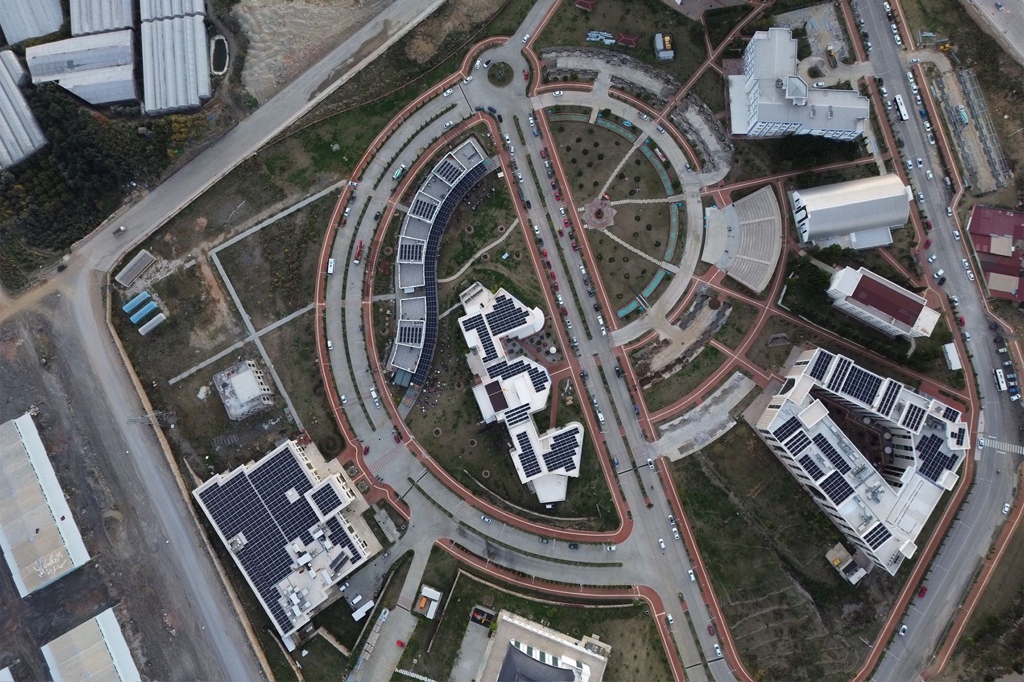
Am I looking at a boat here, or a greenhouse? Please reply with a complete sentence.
It is a greenhouse that can be seen here.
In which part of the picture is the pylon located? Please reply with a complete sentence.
The pylon sits in the left section of the image.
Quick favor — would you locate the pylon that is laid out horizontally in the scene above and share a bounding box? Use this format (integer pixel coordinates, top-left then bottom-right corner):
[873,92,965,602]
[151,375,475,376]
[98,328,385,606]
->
[0,393,175,431]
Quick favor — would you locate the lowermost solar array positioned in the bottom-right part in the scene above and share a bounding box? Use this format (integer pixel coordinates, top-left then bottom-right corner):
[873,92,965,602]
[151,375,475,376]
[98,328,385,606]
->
[863,523,891,549]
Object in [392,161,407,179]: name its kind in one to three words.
vehicle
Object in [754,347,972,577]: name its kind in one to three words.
building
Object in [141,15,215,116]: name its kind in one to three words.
greenhouse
